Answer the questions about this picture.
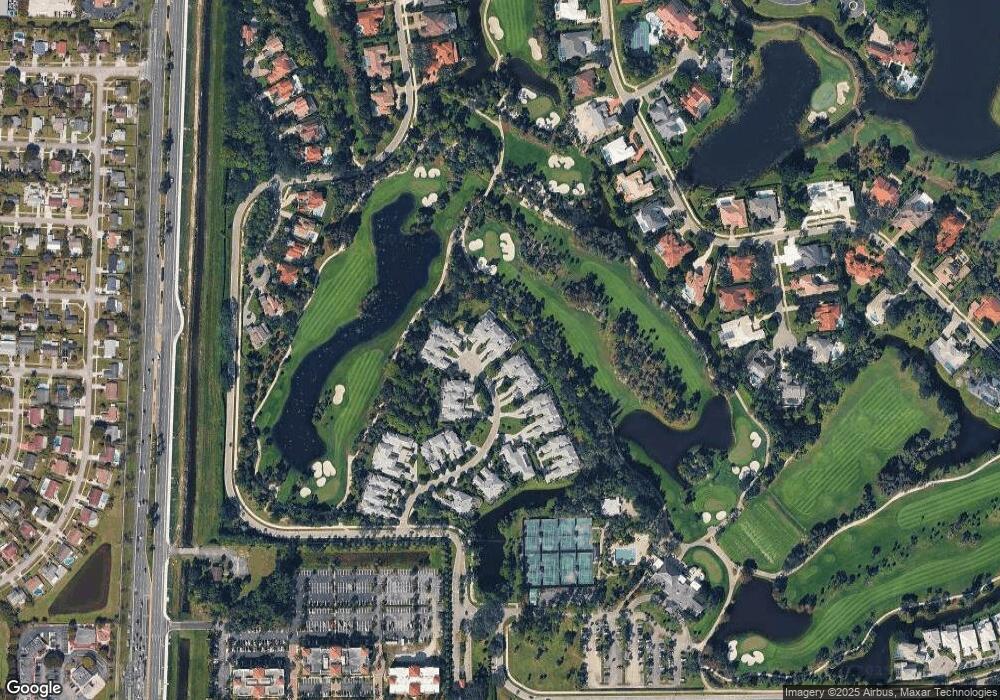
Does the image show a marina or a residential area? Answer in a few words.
residential area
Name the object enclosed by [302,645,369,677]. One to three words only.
building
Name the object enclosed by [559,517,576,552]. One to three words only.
tennis court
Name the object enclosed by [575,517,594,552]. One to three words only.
tennis court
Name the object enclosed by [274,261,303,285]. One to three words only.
house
